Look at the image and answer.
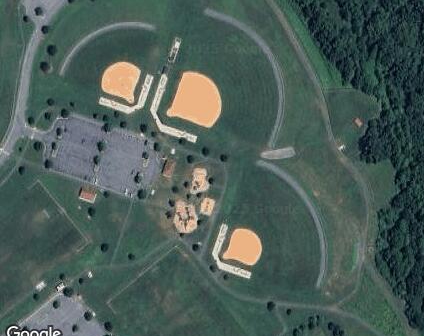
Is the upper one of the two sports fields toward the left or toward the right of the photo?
left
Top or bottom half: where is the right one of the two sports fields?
bottom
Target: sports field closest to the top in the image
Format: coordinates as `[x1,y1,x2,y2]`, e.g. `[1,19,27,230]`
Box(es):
[0,180,90,286]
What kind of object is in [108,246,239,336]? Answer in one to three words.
sports field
